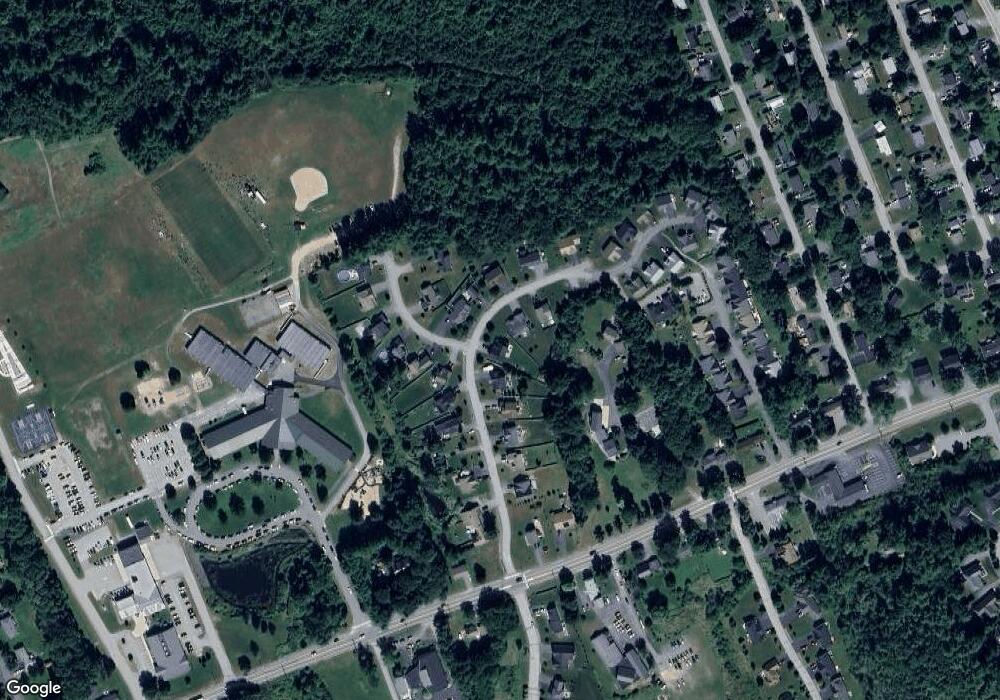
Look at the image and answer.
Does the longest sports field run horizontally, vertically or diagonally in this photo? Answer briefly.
diagonally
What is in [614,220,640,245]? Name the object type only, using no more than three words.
house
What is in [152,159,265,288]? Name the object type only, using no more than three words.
sports field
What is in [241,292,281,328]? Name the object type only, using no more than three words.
sports court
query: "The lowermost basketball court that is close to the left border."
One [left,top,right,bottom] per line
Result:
[12,408,58,454]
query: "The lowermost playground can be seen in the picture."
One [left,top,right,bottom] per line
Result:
[341,453,384,507]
